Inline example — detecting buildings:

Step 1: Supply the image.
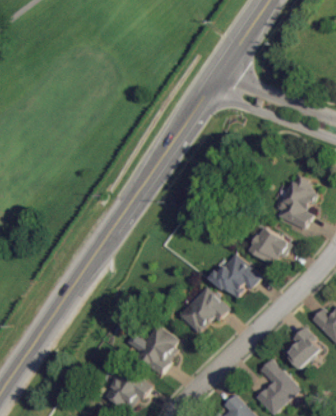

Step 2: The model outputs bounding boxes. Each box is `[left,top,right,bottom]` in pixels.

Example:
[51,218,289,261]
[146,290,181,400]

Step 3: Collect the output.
[258,358,302,416]
[246,226,292,264]
[182,288,234,334]
[143,328,182,378]
[106,376,159,406]
[208,250,262,298]
[311,308,336,344]
[224,396,262,416]
[287,322,324,368]
[277,173,320,231]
